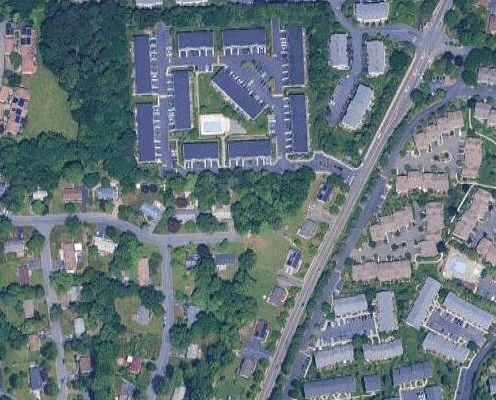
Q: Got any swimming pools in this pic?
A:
Yes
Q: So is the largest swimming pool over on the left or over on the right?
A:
right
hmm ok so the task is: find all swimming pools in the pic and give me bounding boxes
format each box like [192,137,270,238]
[199,114,229,136]
[444,250,483,285]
